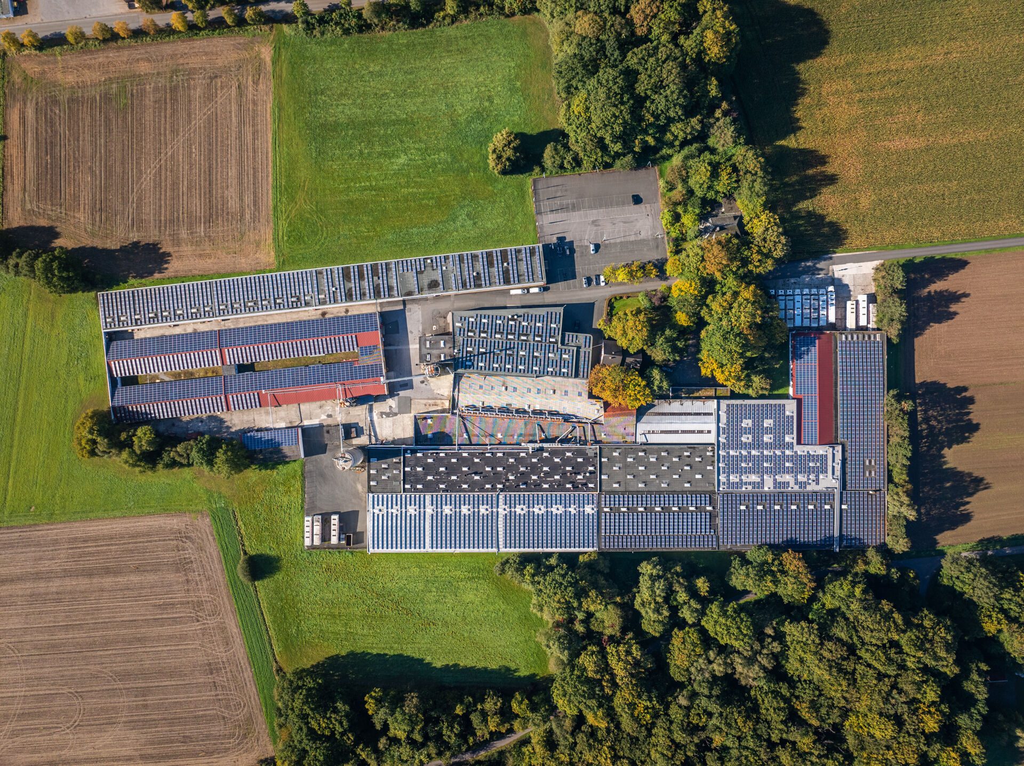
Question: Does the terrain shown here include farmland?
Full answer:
Yes, farmland can be seen from above here.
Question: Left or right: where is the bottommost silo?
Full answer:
You can find the bottommost silo on the left side of the picture.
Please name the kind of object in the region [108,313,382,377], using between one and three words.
shed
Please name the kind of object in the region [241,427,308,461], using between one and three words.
shed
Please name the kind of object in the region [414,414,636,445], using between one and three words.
building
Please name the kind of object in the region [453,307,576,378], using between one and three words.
building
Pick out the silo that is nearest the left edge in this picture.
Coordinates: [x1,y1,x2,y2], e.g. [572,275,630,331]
[332,449,363,472]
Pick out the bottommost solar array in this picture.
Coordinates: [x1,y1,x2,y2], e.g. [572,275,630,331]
[243,429,298,449]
